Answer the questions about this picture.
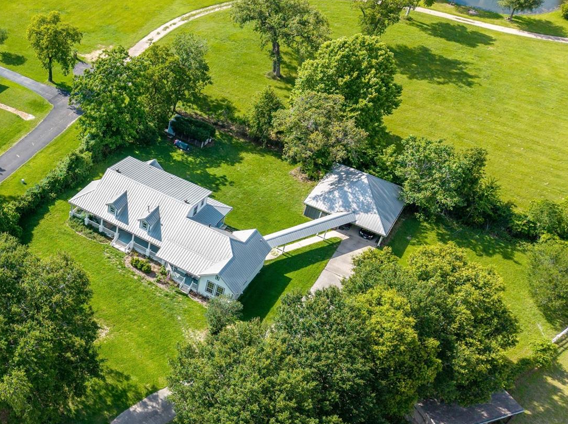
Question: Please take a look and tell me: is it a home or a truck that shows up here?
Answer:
home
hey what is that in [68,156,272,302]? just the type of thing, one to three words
house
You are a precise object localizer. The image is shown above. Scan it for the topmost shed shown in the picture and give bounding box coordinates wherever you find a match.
[169,112,226,148]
